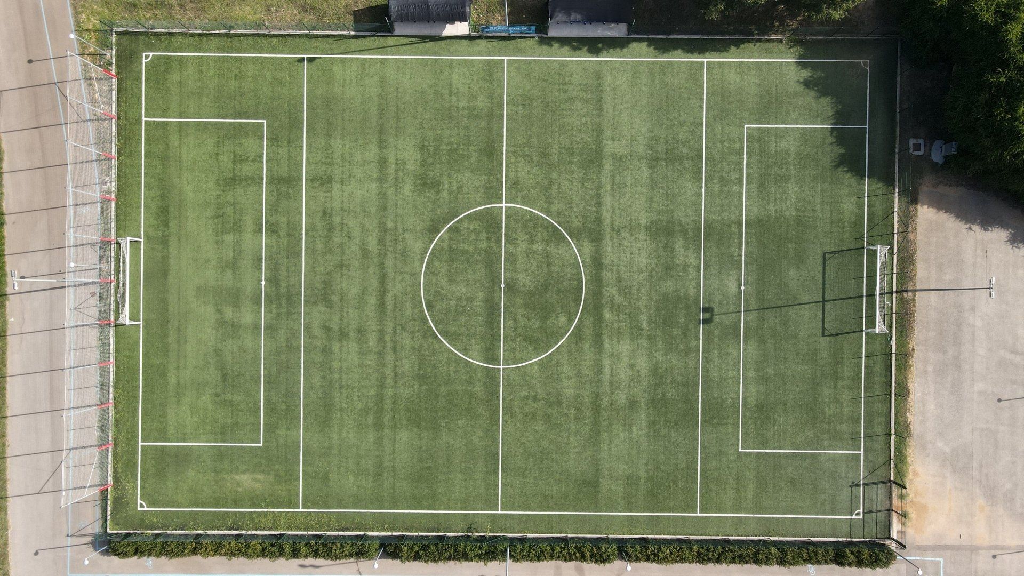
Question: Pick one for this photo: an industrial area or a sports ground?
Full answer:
The area seen from above is a sports ground.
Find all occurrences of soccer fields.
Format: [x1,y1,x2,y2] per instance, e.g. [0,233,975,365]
[110,31,898,536]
